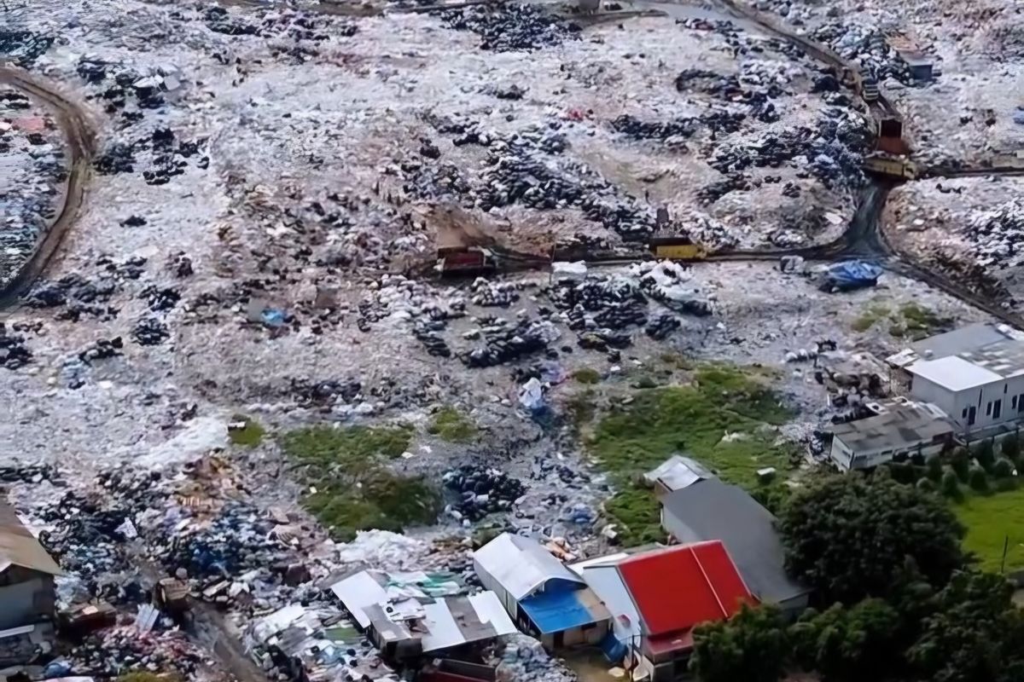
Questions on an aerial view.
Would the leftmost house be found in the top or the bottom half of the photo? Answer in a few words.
bottom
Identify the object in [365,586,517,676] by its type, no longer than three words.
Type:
shed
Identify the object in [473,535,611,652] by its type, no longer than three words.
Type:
house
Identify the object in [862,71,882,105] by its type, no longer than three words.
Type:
vehicle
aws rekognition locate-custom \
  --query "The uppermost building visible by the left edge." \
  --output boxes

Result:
[0,506,67,628]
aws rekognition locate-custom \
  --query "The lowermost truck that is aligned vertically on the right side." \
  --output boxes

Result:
[880,108,905,151]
